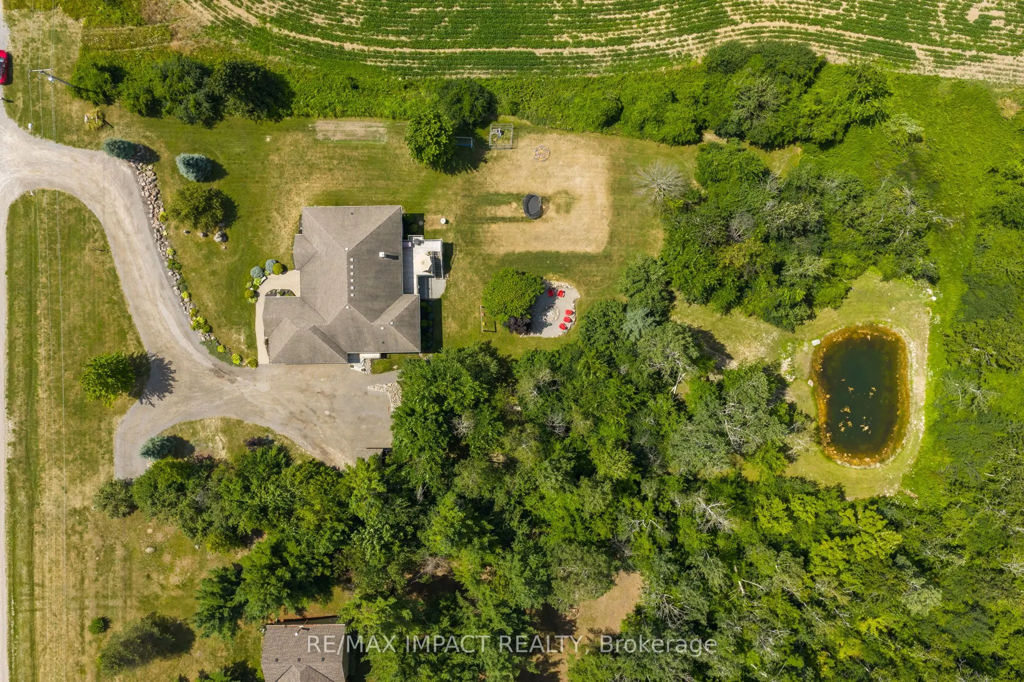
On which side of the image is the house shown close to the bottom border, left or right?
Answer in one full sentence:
It is on the left.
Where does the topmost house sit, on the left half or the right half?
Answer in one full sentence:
The topmost house is on the left side of the image.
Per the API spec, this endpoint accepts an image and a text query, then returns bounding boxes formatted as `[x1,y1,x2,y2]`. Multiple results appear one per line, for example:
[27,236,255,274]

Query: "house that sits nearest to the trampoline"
[263,205,421,364]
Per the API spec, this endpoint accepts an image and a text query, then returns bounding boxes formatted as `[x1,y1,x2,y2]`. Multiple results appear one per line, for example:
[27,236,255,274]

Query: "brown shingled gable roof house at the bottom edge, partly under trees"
[262,617,348,682]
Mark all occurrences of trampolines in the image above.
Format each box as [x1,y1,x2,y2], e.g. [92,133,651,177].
[523,190,543,219]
